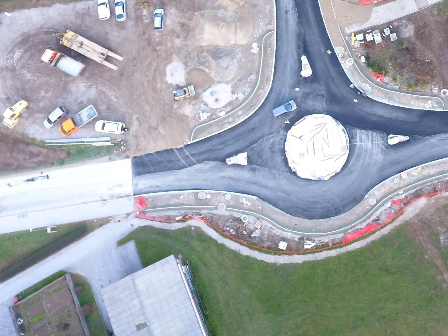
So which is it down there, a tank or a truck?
truck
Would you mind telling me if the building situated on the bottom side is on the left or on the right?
left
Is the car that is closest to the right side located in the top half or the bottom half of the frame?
top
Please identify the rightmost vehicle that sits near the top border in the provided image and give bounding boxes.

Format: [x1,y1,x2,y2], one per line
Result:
[151,9,166,31]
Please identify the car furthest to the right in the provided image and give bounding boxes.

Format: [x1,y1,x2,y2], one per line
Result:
[271,99,298,119]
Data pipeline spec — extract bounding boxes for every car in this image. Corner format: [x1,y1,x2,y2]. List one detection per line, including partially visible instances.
[41,105,69,131]
[271,99,298,119]
[95,0,112,21]
[151,9,166,31]
[112,0,128,22]
[95,119,125,136]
